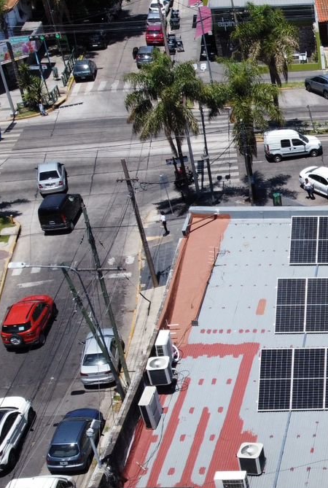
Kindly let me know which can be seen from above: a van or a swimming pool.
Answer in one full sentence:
Visible in the photo is a van.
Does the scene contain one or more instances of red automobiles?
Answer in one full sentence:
Yes, a red automobile appears in the view.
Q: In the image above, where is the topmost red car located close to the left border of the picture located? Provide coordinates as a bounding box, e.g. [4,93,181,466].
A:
[0,291,57,351]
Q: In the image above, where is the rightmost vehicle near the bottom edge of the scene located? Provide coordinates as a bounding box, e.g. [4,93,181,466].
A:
[40,398,101,472]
